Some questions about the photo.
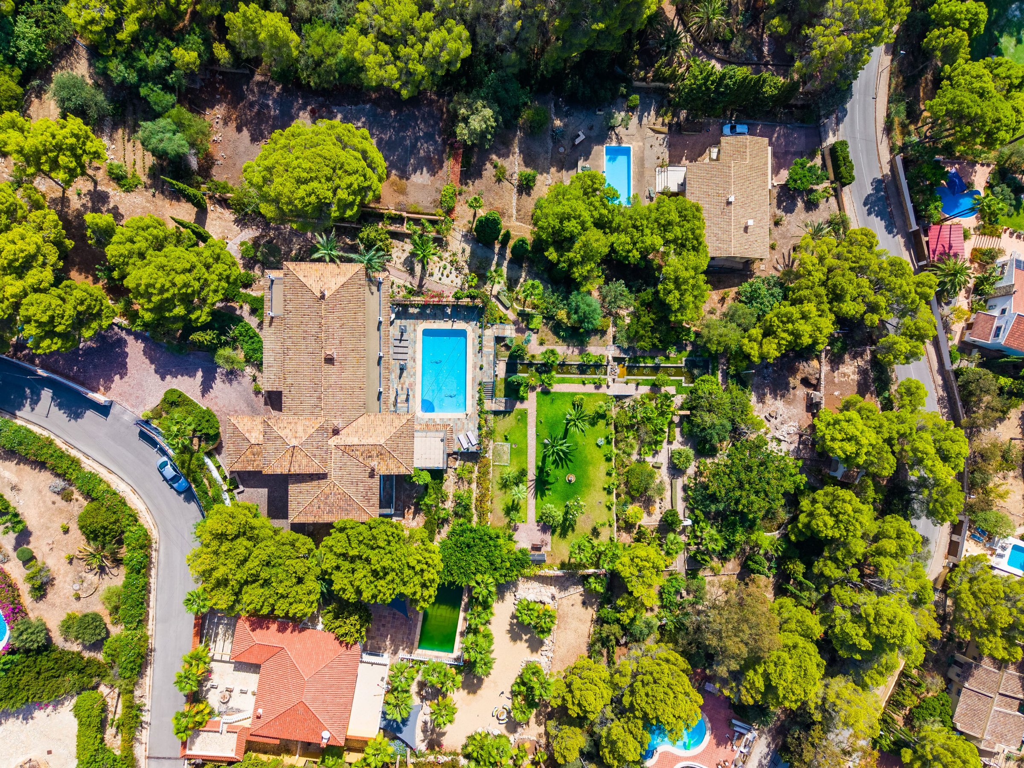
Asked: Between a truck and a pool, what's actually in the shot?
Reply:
pool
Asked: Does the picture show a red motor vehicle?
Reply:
No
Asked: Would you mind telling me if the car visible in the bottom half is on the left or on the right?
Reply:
left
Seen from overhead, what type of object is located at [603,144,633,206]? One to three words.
swimming pool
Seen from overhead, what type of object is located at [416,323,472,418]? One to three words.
swimming pool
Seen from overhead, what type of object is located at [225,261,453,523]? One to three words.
house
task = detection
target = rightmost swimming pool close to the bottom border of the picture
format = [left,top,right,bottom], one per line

[639,702,711,762]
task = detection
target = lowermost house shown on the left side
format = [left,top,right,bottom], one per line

[230,614,392,766]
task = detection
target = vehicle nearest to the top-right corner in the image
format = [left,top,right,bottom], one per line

[723,120,752,136]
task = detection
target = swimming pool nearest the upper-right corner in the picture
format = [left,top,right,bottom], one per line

[939,182,986,220]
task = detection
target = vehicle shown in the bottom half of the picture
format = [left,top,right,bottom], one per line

[152,455,187,493]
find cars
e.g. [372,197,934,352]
[723,120,752,136]
[152,455,187,493]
